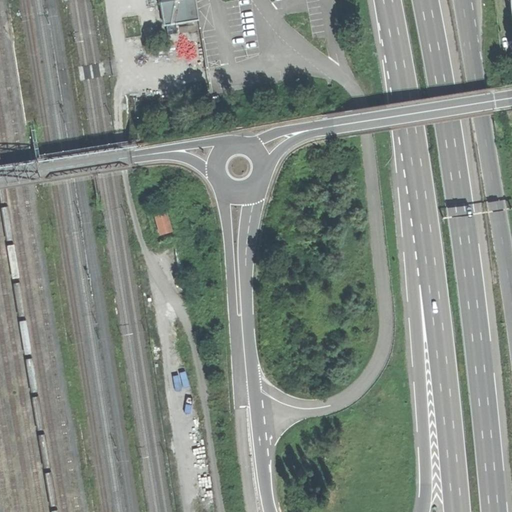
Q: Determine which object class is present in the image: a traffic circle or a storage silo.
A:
traffic circle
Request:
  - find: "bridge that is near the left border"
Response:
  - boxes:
[0,140,138,188]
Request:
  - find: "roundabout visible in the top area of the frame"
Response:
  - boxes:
[206,134,278,206]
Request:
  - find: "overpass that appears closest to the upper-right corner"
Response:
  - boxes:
[351,88,494,135]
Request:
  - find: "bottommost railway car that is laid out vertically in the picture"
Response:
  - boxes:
[45,471,57,509]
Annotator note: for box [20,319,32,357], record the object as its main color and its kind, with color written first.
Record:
white rail car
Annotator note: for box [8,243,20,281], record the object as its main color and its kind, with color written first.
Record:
white rail car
